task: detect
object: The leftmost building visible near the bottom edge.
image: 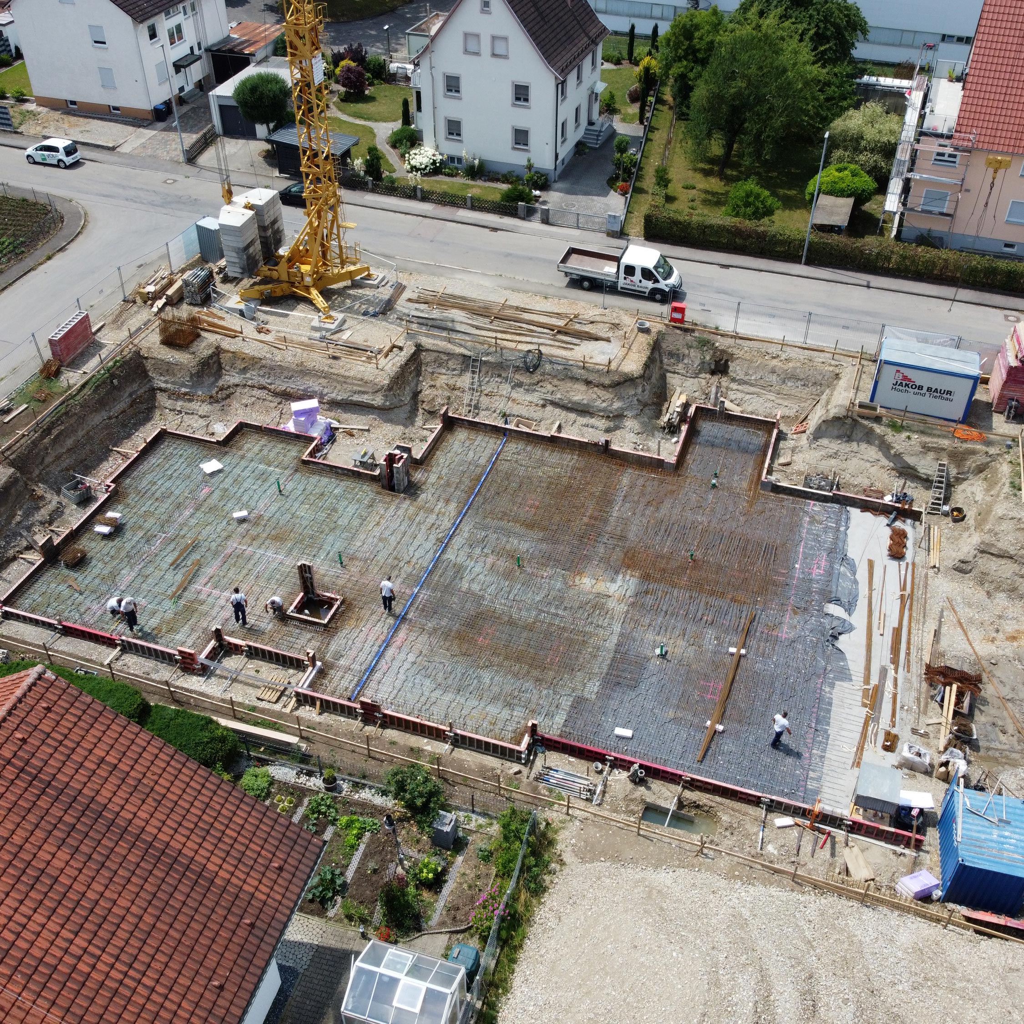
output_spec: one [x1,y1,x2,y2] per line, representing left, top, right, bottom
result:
[0,665,334,1024]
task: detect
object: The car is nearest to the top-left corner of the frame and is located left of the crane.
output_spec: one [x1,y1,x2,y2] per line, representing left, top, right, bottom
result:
[21,137,82,168]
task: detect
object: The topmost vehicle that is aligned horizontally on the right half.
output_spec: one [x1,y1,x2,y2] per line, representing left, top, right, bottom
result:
[559,238,695,302]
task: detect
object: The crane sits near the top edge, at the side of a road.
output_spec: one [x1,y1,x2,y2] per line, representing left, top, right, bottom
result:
[237,0,377,325]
